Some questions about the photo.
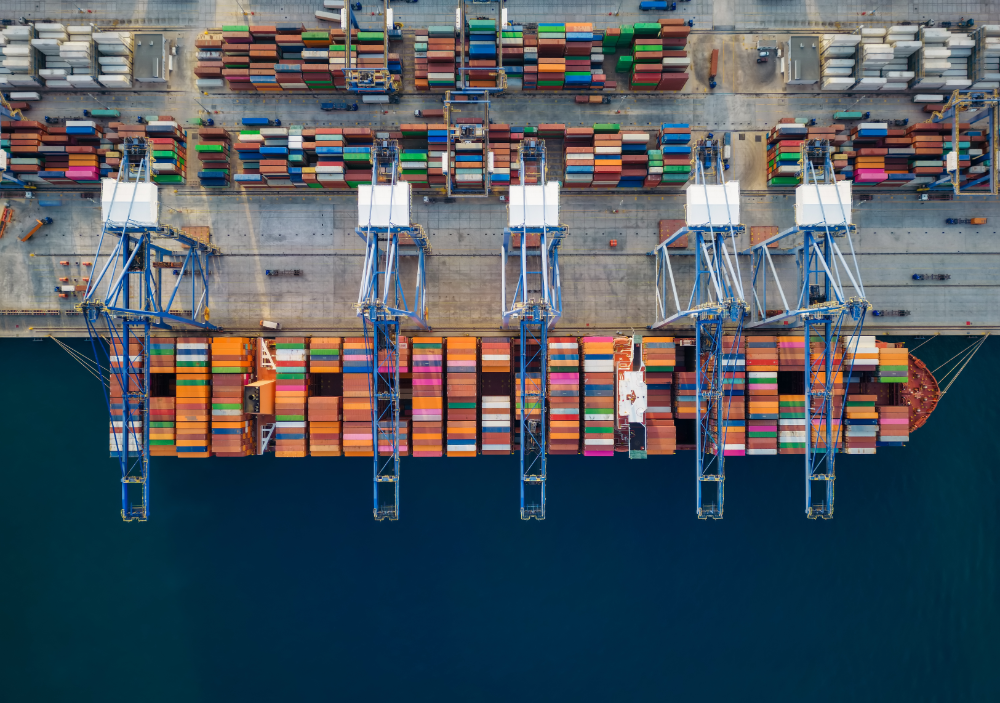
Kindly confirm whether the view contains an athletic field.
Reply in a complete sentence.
No, the scene contains no athletic field.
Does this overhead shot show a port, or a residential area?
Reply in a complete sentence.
The area seen from above is a port.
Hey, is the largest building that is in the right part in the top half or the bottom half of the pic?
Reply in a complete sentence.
The largest building that is in the right part is in the top half of the image.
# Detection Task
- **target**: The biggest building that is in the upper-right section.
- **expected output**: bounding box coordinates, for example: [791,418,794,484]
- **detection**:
[787,36,819,84]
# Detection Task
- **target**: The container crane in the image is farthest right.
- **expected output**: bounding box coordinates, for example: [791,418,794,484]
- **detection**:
[924,90,1000,197]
